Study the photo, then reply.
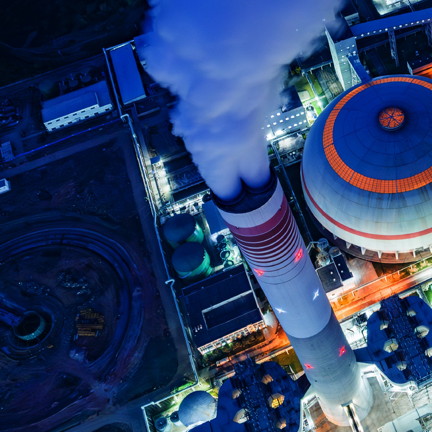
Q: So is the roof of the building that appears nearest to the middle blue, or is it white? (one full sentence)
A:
The roof of the building that appears nearest to the middle is blue.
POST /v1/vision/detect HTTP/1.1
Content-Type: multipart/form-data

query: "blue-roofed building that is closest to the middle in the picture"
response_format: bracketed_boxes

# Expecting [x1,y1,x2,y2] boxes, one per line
[202,200,230,238]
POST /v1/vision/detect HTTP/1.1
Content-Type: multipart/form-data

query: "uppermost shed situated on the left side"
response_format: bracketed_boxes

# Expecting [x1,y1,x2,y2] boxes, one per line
[134,27,174,65]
